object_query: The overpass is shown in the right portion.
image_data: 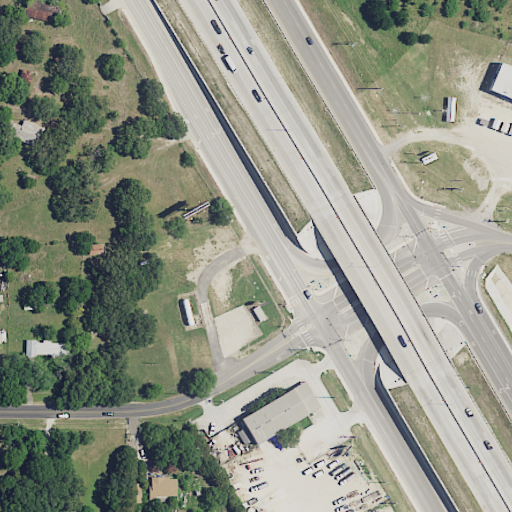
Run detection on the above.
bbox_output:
[310,192,452,386]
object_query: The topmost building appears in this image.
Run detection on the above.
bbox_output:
[28,1,57,20]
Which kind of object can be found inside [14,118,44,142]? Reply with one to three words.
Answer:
house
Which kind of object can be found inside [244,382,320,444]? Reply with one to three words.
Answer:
building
